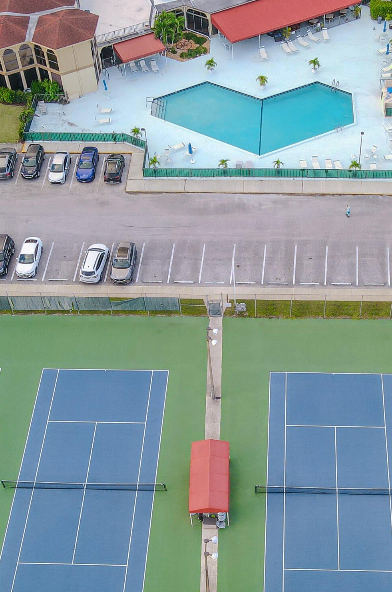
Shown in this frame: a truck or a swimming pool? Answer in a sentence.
The image shows a swimming pool.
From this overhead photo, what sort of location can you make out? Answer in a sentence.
The area seen from above is a sports ground.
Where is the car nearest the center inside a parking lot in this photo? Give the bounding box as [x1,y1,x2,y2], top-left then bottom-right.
[109,239,136,282]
